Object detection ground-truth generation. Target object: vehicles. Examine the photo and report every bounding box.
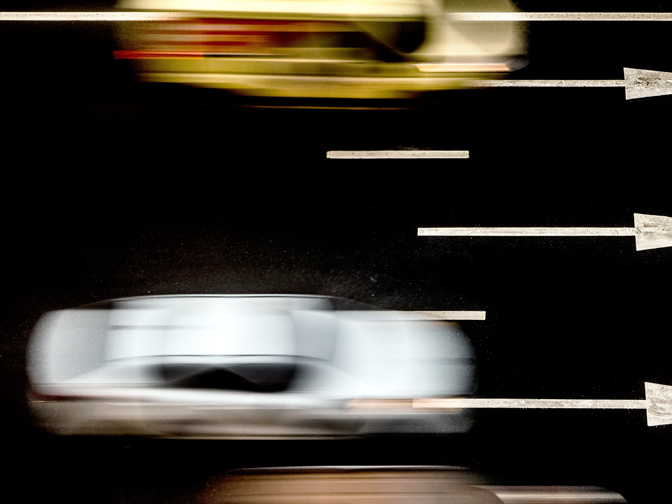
[32,282,469,436]
[221,461,605,504]
[122,0,526,111]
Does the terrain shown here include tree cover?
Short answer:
No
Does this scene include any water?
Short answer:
No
